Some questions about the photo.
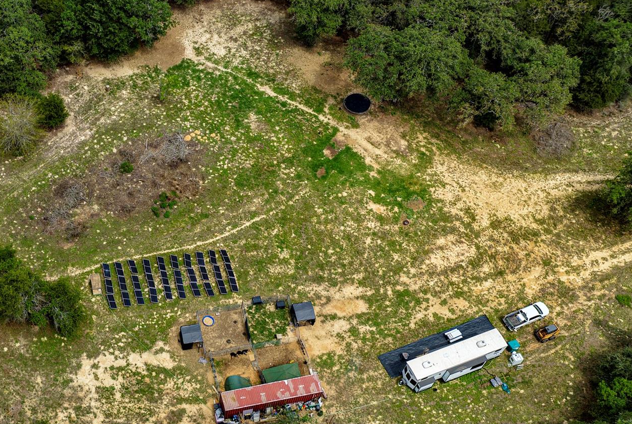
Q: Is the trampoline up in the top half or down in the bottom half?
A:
top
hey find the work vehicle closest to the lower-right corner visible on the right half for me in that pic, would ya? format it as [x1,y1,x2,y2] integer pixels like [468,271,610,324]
[528,321,563,345]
